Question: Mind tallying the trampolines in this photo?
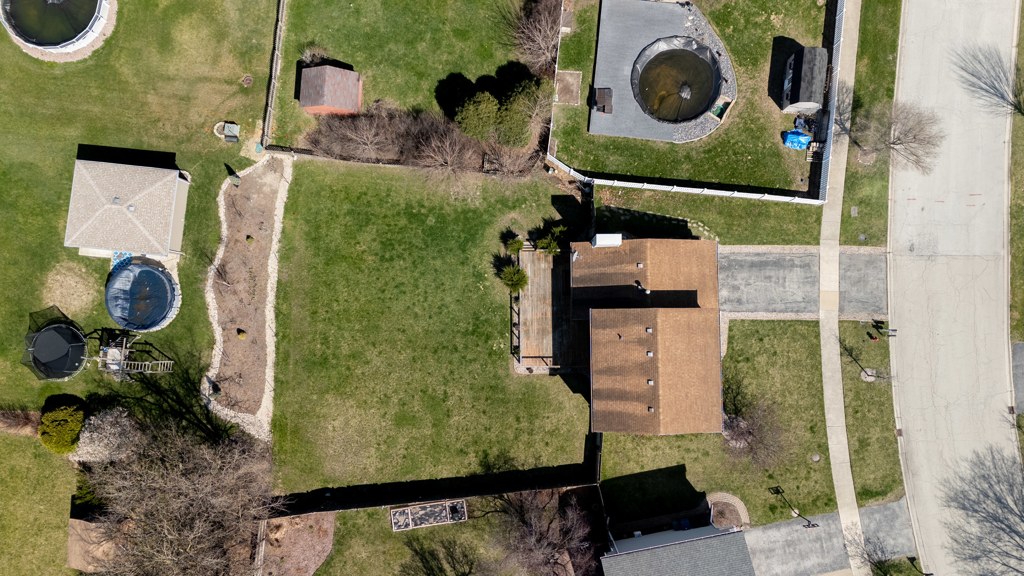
1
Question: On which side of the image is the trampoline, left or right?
left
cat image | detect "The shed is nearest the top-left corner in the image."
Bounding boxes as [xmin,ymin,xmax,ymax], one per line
[64,158,190,258]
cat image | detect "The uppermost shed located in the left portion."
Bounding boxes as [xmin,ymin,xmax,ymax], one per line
[299,67,363,117]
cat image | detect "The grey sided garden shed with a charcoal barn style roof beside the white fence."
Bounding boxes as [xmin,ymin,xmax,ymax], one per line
[782,44,832,113]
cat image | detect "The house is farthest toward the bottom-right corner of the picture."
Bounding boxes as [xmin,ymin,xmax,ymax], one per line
[595,506,755,576]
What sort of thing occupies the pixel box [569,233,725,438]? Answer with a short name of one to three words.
house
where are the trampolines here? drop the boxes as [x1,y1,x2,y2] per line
[17,324,92,382]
